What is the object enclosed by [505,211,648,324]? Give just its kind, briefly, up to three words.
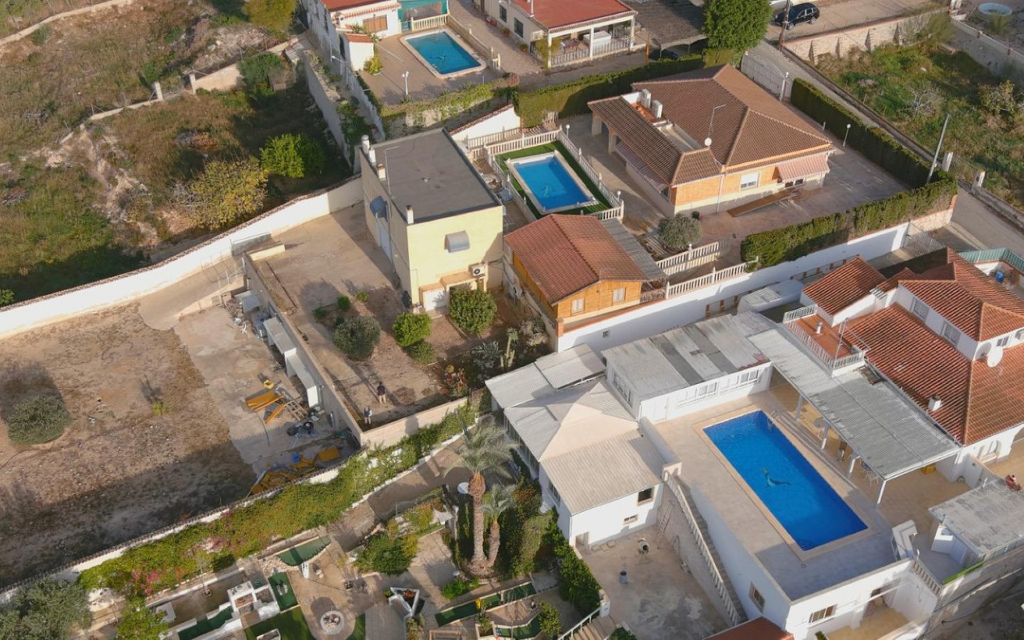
house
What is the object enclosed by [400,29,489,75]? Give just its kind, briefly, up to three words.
swimming pool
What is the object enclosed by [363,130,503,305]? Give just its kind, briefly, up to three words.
house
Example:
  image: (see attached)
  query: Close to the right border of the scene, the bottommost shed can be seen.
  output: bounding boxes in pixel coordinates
[928,468,1024,571]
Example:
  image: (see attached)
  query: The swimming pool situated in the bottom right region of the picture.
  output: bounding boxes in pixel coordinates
[693,403,879,559]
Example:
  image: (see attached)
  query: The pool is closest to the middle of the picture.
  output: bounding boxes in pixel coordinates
[506,153,598,213]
